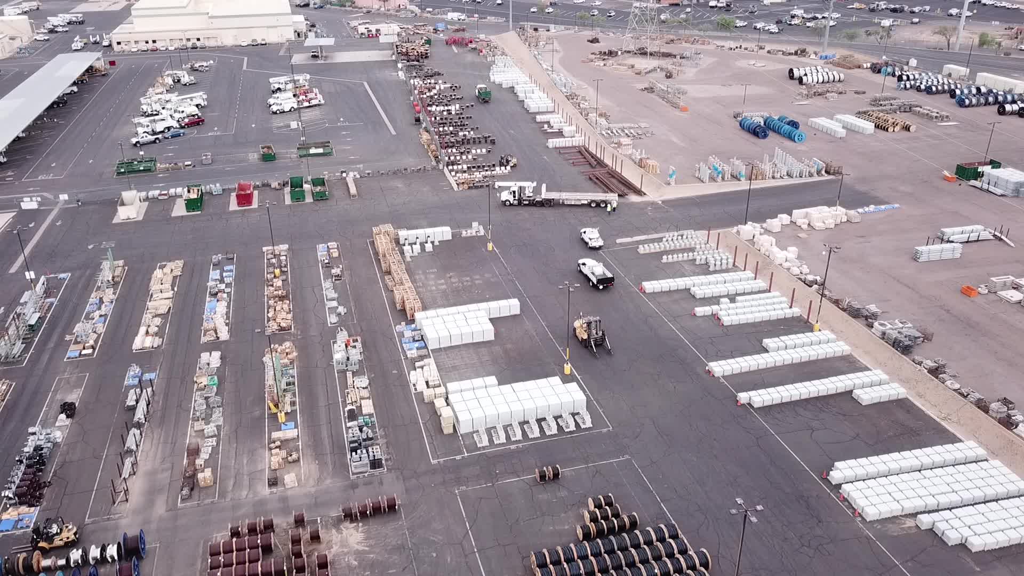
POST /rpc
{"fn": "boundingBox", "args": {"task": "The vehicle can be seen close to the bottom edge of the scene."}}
[12,513,82,553]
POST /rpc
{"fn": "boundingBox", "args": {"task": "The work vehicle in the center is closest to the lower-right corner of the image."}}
[572,312,613,357]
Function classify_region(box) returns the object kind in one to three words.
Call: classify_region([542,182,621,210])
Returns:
trailer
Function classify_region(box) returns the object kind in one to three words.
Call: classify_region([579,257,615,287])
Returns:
truck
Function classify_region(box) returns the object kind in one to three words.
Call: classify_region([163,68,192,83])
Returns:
vehicle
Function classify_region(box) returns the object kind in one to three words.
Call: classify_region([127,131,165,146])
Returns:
vehicle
